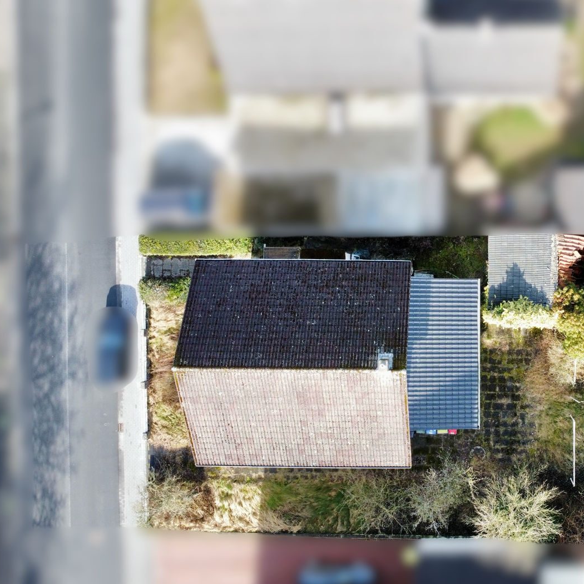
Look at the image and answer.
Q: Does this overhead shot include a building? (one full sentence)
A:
Yes, there's a building here.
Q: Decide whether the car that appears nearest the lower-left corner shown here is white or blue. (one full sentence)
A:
In this view, the car that appears nearest the lower-left corner is blue.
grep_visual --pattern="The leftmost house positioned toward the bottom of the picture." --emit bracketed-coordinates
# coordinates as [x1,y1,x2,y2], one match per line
[172,257,414,469]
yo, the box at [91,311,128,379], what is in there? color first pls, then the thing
blue car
